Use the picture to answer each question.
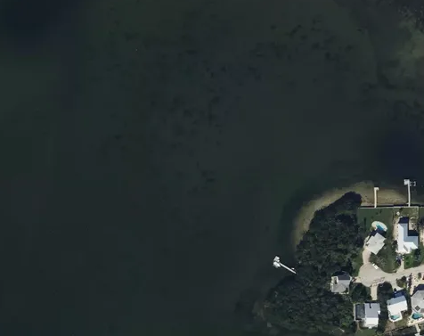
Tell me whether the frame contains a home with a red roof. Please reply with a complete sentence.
No, there is no home with a red roof in the image.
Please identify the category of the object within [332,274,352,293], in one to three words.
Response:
house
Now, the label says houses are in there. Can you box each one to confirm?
[364,303,382,327]
[368,232,387,254]
[413,288,424,314]
[332,274,352,293]
[397,222,420,251]
[387,295,409,315]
